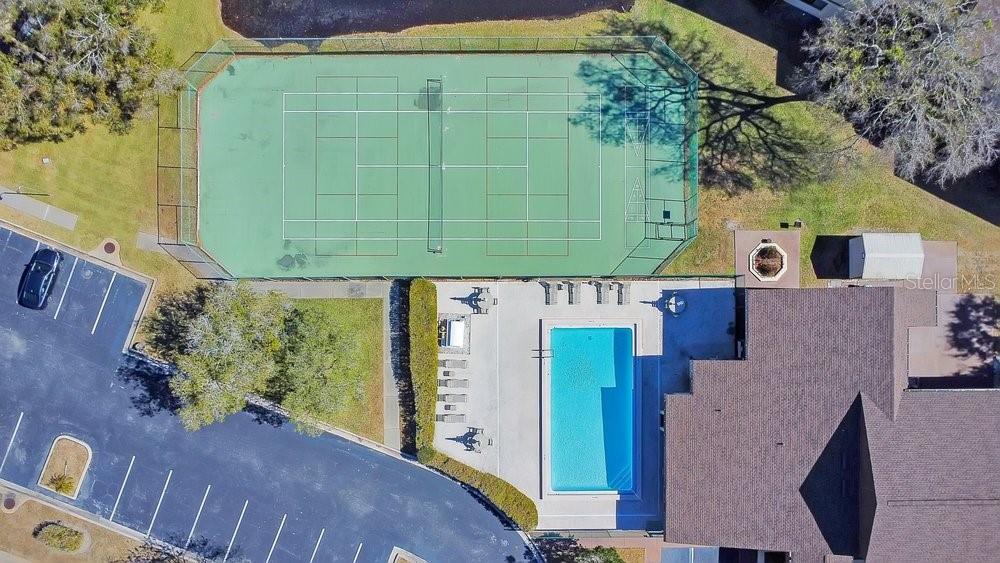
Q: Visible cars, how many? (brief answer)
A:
1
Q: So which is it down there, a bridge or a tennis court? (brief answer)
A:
tennis court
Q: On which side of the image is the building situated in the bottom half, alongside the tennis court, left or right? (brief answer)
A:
right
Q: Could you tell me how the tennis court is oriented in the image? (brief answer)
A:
horizontally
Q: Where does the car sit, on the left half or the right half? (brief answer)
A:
left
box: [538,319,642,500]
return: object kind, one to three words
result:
swimming pool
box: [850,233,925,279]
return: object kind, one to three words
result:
shed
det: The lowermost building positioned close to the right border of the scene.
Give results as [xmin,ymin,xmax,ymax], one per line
[659,288,1000,563]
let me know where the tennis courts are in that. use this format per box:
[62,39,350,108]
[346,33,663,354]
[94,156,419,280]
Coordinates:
[195,50,688,276]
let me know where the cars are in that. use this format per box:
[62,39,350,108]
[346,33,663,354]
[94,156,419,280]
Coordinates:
[21,249,64,310]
